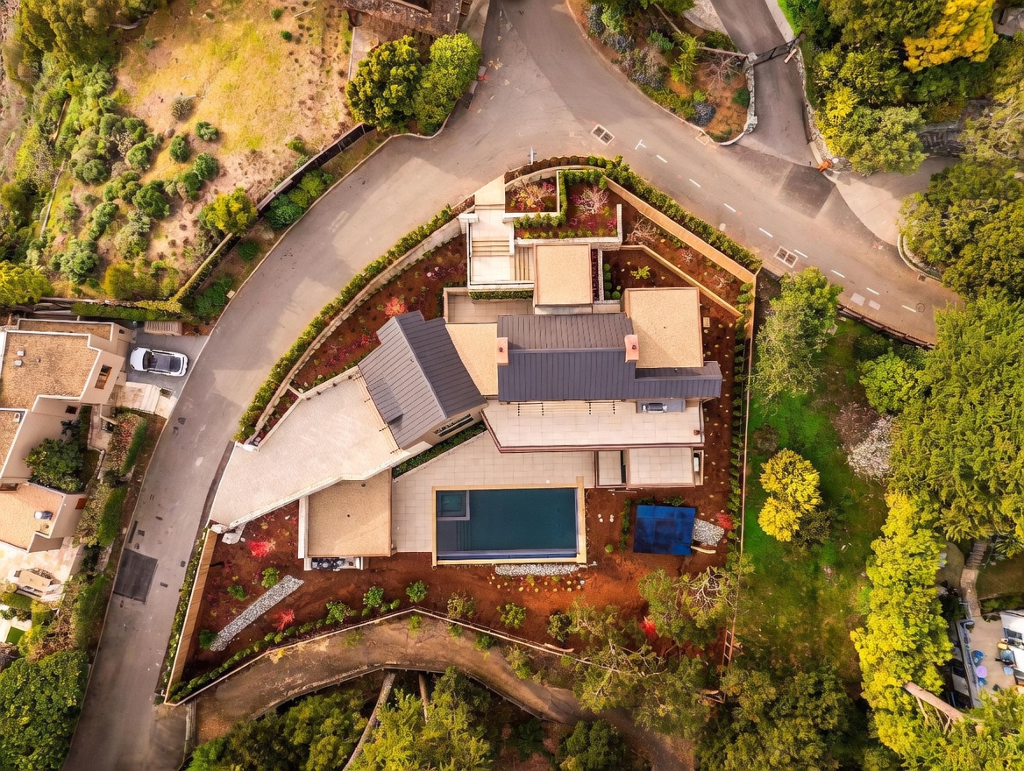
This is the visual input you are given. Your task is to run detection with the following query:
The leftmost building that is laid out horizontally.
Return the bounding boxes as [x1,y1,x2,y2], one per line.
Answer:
[144,321,187,336]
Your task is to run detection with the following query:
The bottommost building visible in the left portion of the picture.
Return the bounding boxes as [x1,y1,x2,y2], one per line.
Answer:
[298,468,396,558]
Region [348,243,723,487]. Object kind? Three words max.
house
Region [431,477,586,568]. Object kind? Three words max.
swimming pool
